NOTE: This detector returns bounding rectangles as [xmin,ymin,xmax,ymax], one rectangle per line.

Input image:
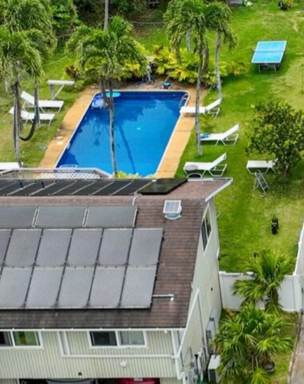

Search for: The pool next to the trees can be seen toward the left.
[52,94,186,178]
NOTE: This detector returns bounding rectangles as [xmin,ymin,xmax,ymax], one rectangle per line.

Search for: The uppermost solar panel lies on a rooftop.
[164,192,180,208]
